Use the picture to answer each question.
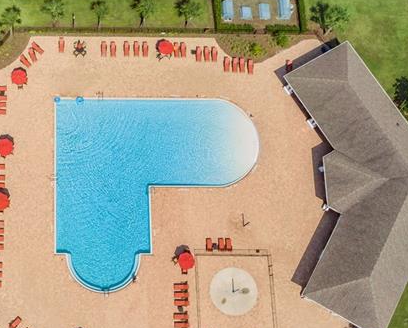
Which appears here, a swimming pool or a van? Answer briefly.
swimming pool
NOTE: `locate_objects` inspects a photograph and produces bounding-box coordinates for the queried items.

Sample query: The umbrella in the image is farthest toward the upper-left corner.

[11,68,29,86]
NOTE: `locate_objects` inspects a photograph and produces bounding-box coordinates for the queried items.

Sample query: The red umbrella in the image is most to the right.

[177,252,195,271]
